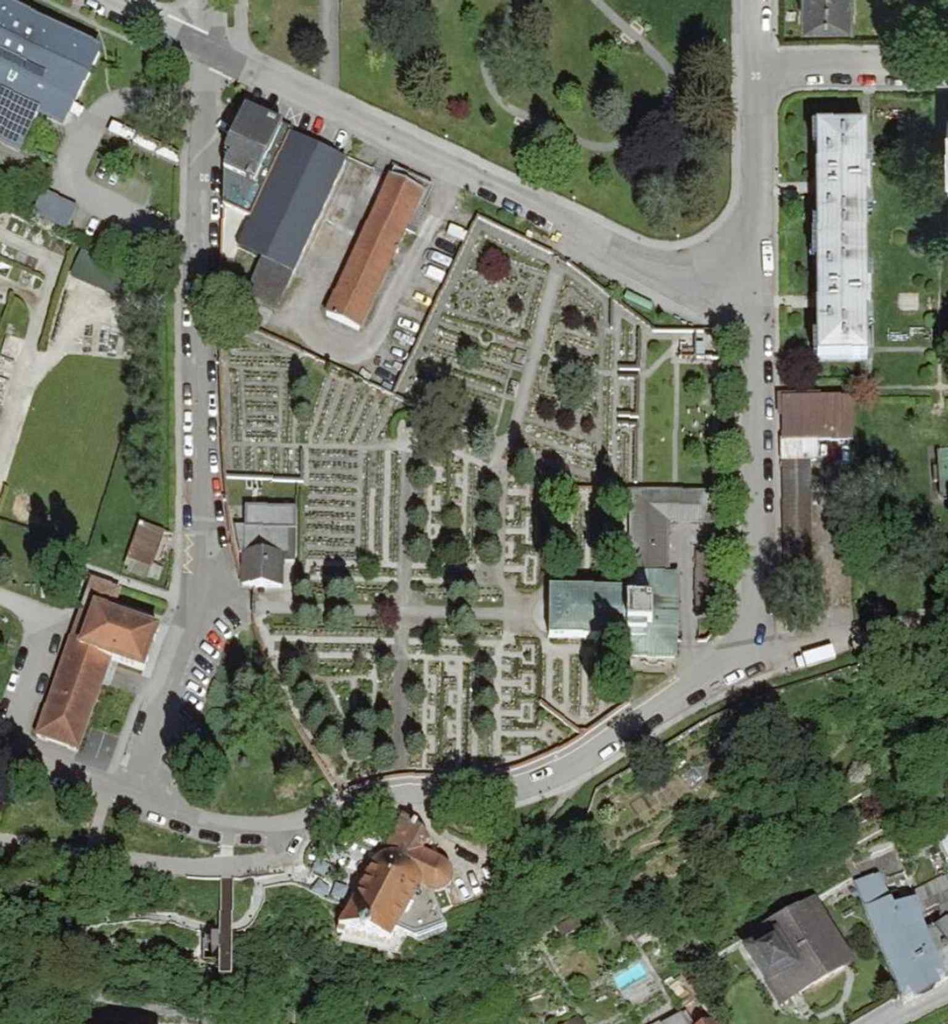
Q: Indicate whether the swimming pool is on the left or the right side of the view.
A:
right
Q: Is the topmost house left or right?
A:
right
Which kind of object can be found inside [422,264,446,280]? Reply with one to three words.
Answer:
vehicle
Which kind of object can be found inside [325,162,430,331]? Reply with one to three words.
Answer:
barn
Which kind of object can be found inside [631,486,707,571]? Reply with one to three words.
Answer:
shed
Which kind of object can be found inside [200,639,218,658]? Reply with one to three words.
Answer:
car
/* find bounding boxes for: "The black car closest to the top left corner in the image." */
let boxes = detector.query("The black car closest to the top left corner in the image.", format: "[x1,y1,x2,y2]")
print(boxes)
[106,10,124,24]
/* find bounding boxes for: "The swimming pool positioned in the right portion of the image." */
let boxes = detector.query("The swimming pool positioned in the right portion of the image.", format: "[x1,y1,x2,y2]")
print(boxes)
[612,959,650,992]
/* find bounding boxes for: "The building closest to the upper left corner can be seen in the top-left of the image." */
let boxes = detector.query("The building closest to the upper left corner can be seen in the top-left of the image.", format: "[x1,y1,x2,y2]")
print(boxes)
[0,0,101,160]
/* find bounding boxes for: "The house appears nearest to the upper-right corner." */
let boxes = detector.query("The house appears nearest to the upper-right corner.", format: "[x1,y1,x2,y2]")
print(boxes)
[803,0,853,47]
